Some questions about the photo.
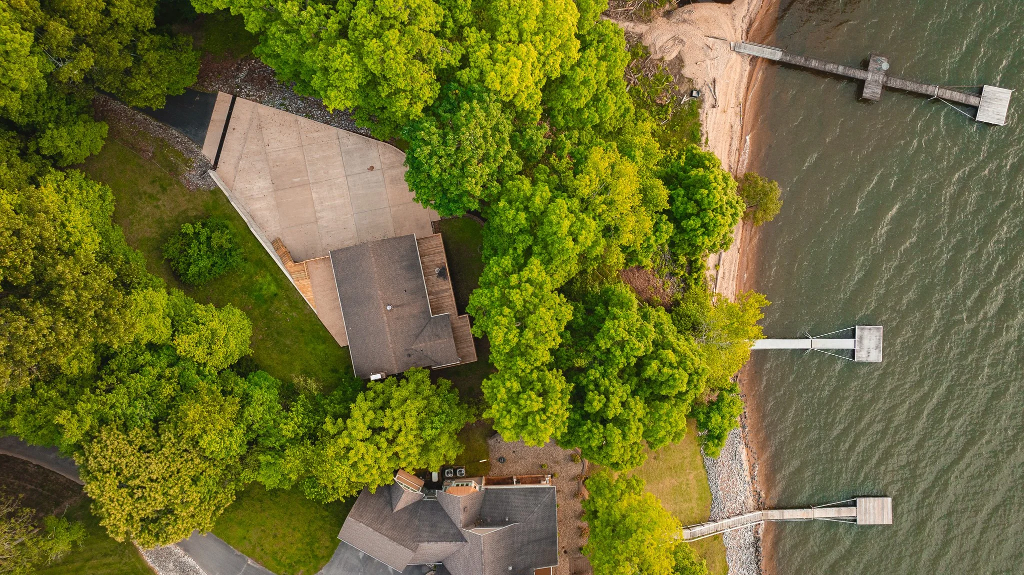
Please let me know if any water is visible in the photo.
Yes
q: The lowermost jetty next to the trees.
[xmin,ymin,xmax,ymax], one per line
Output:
[675,497,893,542]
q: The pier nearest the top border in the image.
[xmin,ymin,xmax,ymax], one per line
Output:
[730,42,1020,127]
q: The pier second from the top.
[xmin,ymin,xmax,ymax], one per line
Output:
[737,325,884,362]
